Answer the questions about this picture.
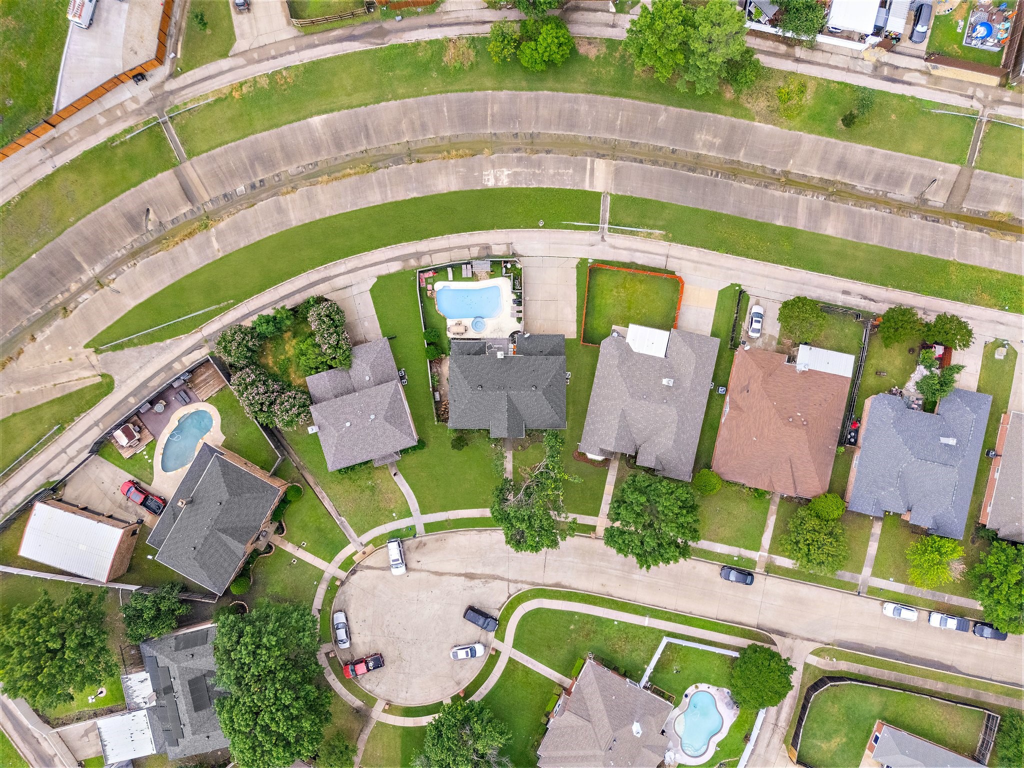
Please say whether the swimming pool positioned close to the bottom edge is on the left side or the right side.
right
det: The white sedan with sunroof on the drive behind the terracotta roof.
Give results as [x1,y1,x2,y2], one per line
[747,305,765,338]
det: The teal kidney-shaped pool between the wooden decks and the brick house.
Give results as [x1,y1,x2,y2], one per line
[151,402,225,504]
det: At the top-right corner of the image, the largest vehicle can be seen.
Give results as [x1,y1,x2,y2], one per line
[910,1,937,44]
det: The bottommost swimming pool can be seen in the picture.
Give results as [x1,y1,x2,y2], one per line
[667,683,740,766]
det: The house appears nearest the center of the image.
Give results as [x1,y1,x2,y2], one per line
[448,332,567,439]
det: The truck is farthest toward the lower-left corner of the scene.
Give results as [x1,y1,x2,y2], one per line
[119,479,167,519]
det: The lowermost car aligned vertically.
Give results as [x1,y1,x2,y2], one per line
[334,611,353,649]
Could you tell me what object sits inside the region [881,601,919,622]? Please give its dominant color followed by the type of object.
white car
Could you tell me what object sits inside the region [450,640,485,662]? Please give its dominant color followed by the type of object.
white car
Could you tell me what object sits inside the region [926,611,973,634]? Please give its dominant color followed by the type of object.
white truck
